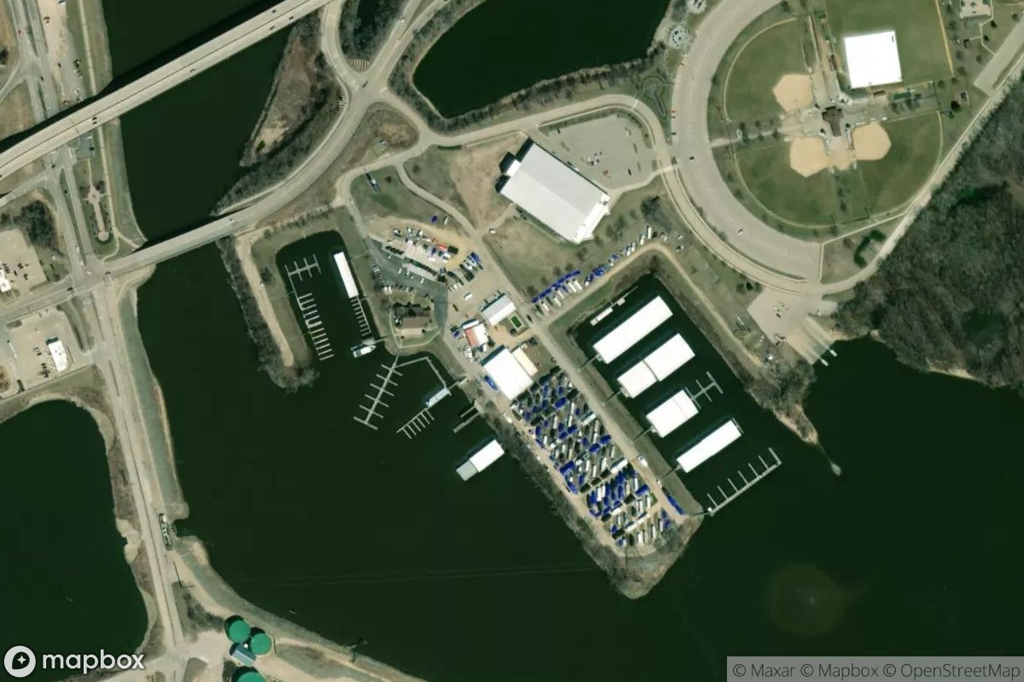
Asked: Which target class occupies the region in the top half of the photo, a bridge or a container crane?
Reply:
bridge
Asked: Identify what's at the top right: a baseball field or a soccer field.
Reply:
baseball field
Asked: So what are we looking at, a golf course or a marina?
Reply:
marina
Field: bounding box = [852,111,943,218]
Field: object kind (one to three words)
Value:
baseball field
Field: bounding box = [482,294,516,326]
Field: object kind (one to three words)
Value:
building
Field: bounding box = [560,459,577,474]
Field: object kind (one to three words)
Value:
boat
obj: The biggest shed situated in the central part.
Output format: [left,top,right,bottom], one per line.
[484,348,533,399]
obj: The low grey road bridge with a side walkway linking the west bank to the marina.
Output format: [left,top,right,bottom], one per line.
[143,218,237,266]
